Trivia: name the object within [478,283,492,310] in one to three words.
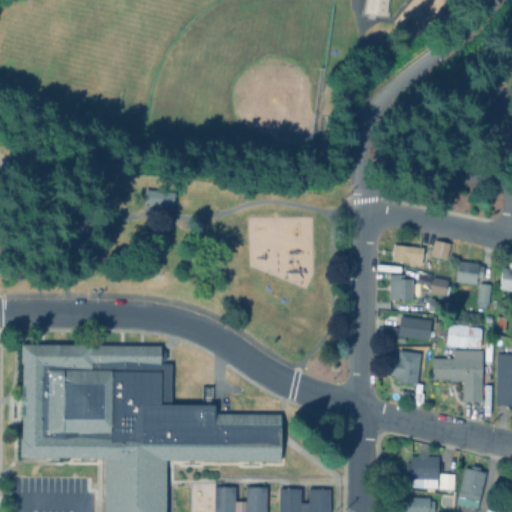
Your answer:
building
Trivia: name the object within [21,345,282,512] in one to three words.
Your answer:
building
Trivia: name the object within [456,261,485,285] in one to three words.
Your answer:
house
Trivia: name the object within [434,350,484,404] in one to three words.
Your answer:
house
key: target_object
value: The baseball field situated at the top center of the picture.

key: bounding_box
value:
[148,0,334,160]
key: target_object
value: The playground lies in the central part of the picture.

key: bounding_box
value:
[249,217,314,288]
